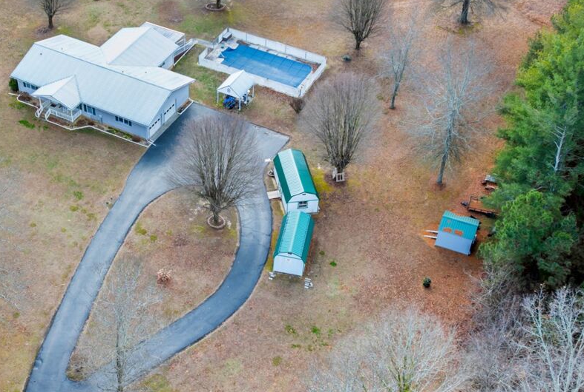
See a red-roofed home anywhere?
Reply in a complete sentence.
No, I can't see a single red-roofed home in this photo.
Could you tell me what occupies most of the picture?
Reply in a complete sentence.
The largest share of the image is taken up by grass.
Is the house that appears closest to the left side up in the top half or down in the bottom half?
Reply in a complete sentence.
The house that appears closest to the left side sits in the top half of the picture.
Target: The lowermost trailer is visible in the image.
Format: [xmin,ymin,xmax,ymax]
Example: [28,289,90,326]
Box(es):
[457,193,511,224]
